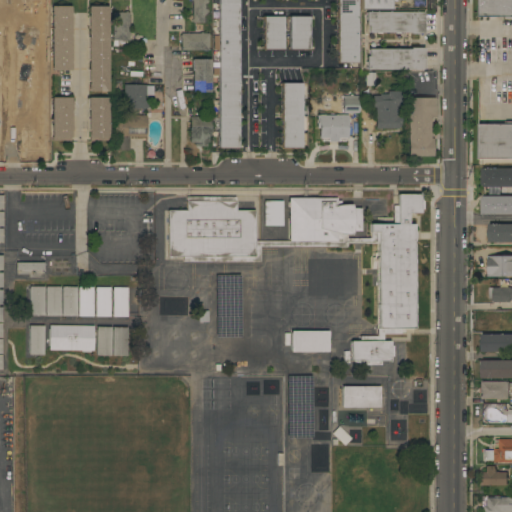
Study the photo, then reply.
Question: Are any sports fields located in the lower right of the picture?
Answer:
Yes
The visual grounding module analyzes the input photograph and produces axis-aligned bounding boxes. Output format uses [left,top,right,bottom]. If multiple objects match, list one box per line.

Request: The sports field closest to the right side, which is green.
[332,446,430,512]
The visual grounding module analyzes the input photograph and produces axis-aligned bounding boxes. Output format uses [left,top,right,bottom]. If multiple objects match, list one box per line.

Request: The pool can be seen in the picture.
[148,120,162,146]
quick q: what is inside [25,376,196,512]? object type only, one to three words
sports field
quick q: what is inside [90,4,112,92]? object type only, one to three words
building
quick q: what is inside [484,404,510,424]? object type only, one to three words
house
